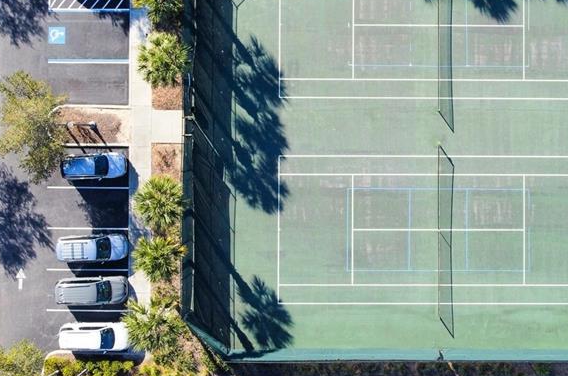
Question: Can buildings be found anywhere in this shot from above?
No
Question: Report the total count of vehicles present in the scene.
4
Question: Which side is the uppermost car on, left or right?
left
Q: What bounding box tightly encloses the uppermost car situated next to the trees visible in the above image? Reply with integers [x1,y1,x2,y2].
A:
[62,149,130,180]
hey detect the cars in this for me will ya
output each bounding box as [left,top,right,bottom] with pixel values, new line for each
[61,320,134,353]
[62,149,130,180]
[58,276,130,308]
[59,231,131,263]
